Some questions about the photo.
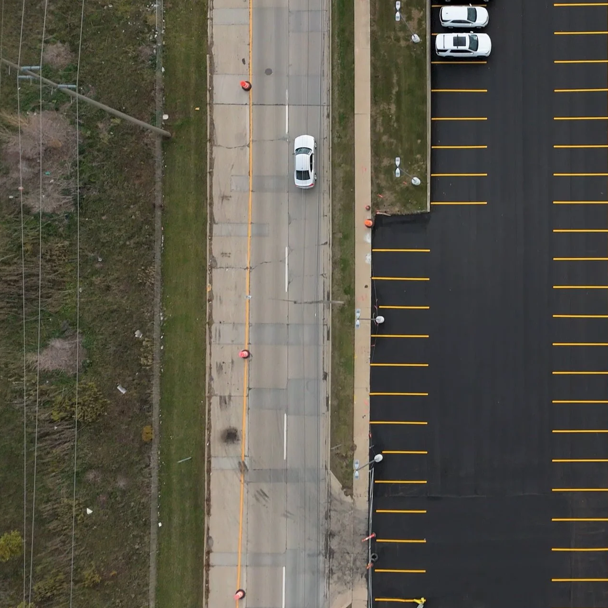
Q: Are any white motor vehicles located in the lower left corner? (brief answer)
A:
No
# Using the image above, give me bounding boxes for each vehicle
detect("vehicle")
[294,136,317,189]
[439,2,489,29]
[436,30,492,57]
